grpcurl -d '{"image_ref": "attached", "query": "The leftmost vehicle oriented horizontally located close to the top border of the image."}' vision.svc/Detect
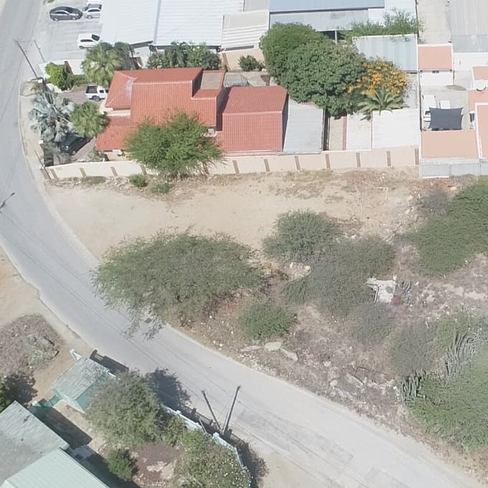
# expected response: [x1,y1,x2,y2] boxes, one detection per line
[48,4,83,21]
